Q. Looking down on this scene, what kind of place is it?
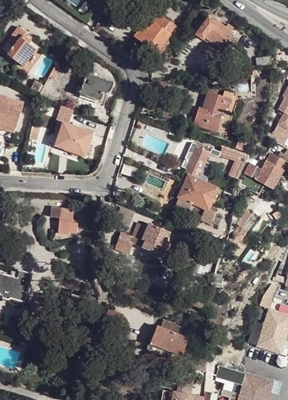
residential area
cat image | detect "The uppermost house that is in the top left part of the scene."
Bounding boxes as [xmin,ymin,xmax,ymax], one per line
[8,28,36,66]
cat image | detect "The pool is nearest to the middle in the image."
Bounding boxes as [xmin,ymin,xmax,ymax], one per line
[146,175,166,190]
